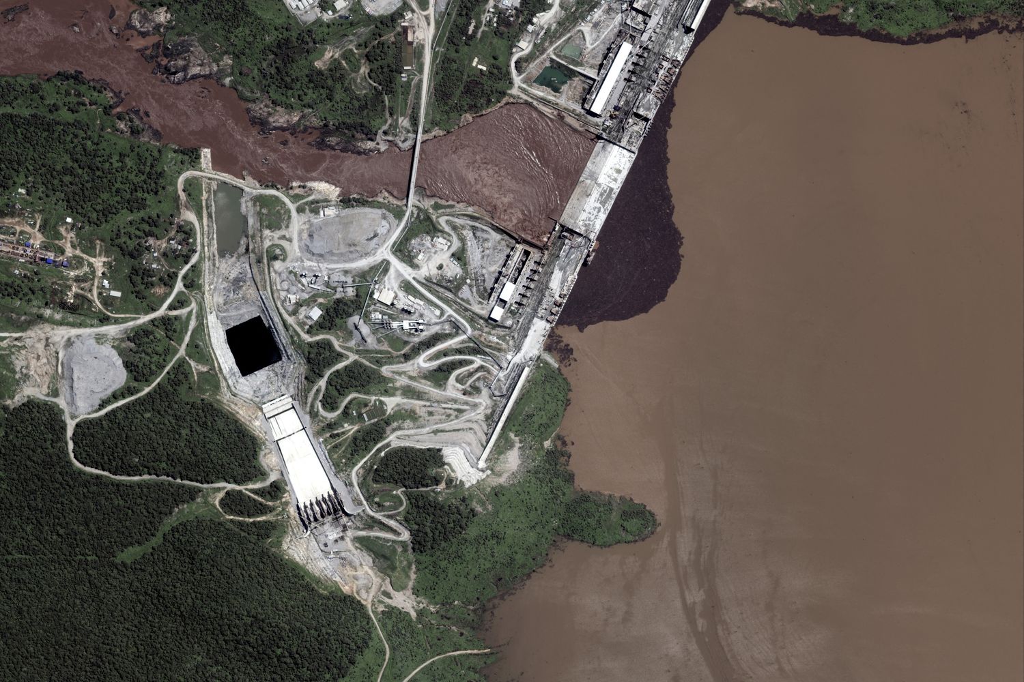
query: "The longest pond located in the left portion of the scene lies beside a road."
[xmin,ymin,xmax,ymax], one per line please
[215,182,248,261]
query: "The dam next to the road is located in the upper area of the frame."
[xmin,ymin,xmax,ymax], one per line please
[477,0,712,465]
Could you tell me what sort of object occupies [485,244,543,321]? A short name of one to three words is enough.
building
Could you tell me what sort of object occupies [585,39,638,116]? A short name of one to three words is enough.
building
